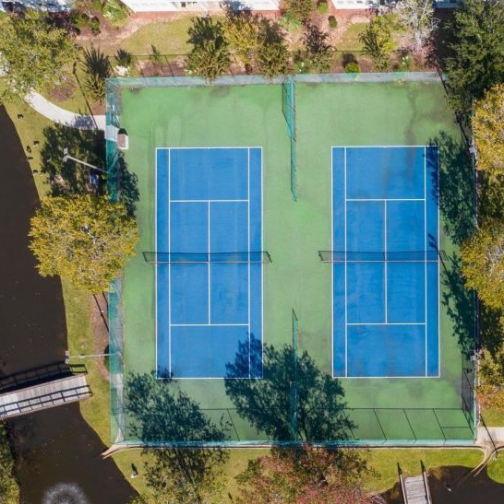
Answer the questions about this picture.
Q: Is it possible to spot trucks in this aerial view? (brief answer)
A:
No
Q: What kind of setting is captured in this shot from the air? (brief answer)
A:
sports ground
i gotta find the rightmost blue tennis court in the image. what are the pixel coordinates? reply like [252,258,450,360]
[332,146,439,377]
